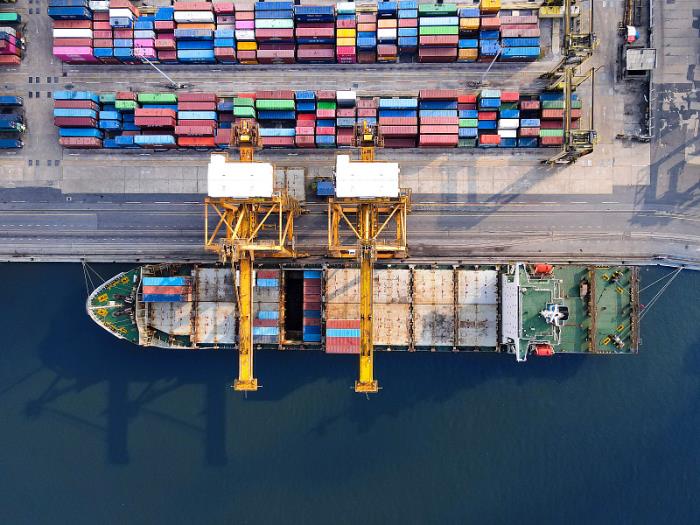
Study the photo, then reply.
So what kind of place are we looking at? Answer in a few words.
port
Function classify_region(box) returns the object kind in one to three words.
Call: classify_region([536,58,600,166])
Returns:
crane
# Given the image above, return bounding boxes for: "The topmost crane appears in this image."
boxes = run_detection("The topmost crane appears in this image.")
[536,0,601,76]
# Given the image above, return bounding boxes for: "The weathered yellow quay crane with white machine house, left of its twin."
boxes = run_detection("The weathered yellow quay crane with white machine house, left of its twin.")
[205,117,307,401]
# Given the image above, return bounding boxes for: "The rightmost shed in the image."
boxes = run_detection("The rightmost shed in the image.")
[620,46,657,81]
